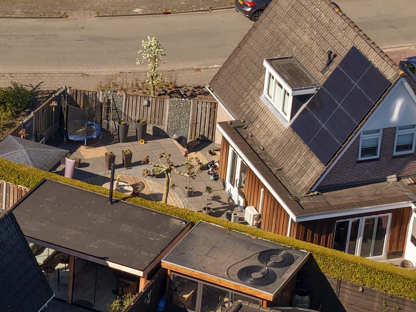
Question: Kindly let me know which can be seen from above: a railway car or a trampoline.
trampoline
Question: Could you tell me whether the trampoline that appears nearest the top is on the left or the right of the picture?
left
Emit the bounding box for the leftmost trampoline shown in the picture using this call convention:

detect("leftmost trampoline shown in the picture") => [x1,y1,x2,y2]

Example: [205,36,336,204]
[68,92,108,148]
